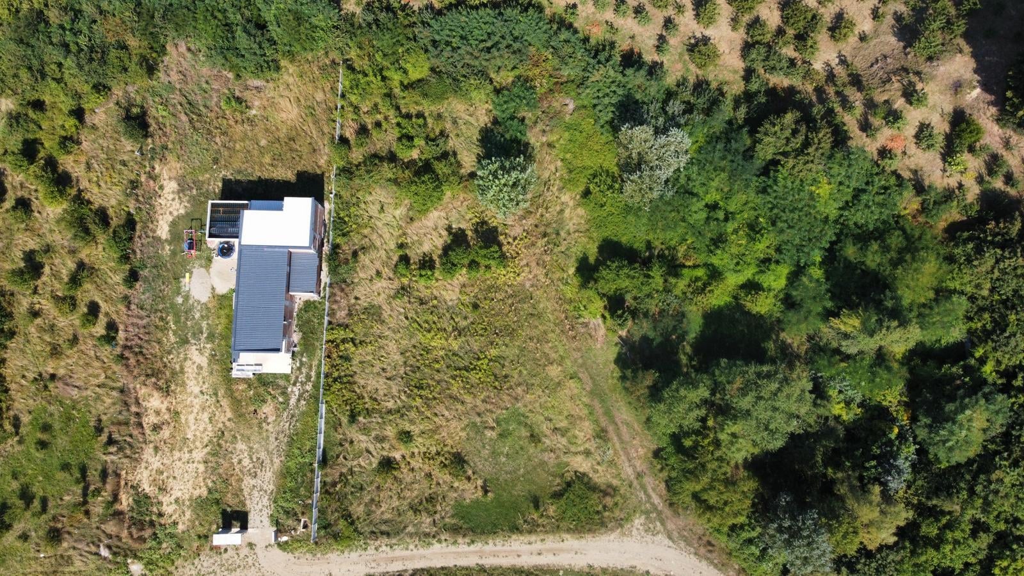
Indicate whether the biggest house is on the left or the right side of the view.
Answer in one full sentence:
The biggest house is on the left side of the image.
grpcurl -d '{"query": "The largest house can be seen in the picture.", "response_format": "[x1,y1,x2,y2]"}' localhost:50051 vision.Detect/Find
[206,197,326,374]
